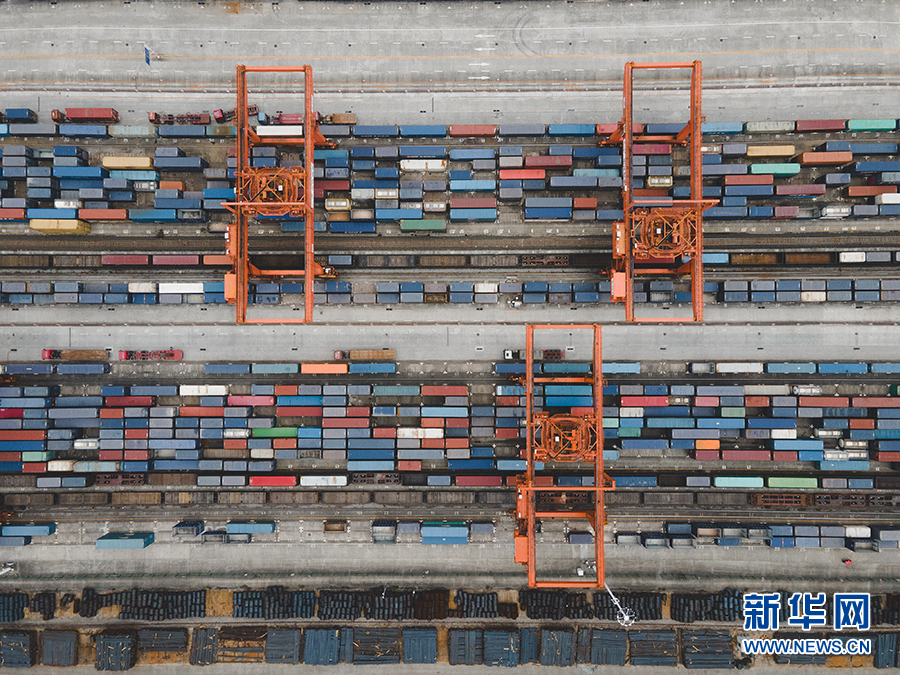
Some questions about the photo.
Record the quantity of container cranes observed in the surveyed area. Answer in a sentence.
In total, 3 container cranes can be seen.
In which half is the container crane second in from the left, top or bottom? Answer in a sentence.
The container crane second in from the left is in the bottom half of the image.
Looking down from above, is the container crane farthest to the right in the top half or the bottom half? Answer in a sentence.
You can find the container crane farthest to the right in the top half.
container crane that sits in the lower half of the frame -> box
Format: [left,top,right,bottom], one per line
[506,325,613,588]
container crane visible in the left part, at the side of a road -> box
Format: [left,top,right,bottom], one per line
[215,65,345,323]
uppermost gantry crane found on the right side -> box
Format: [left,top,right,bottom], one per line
[595,62,720,322]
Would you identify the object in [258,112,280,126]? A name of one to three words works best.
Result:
vehicle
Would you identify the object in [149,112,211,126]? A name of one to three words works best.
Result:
vehicle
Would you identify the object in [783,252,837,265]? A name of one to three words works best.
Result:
rail car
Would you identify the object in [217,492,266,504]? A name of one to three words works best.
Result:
rail car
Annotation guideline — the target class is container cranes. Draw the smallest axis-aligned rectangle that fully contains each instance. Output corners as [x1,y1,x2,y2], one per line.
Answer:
[506,325,613,588]
[595,62,720,322]
[215,65,345,323]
